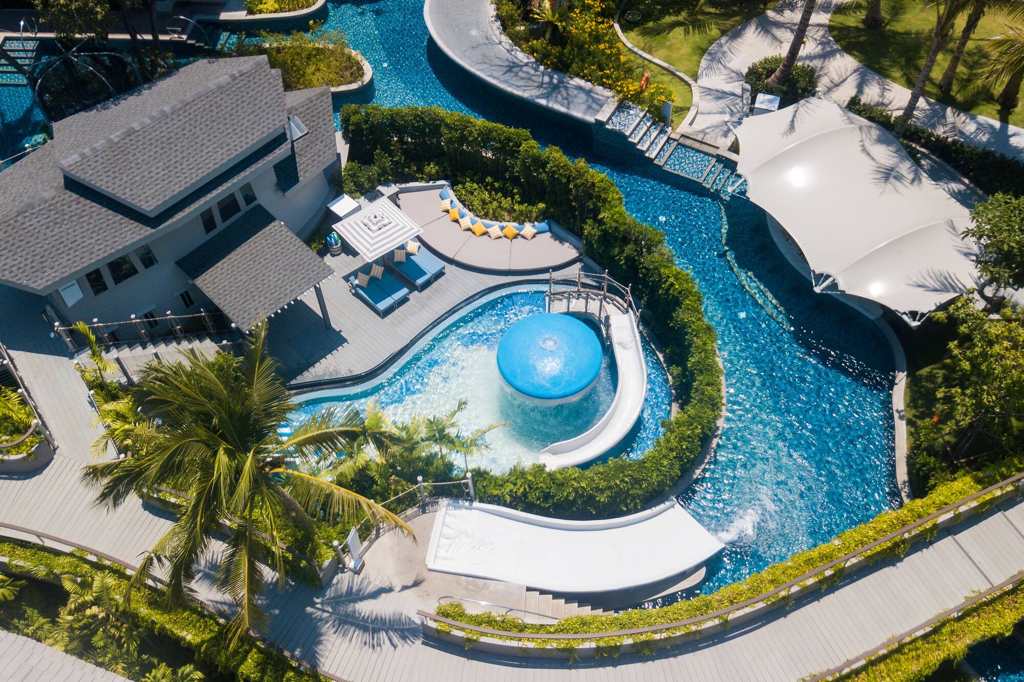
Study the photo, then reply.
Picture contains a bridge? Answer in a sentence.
Yes, I can see a bridge in this picture.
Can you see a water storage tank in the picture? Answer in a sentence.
No, the picture doesn't show any water storage tank.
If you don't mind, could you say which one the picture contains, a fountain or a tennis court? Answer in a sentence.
Looking from above, you can make out a fountain.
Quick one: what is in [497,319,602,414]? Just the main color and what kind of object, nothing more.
blue fountain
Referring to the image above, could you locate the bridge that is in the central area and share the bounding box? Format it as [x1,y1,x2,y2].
[548,288,631,361]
